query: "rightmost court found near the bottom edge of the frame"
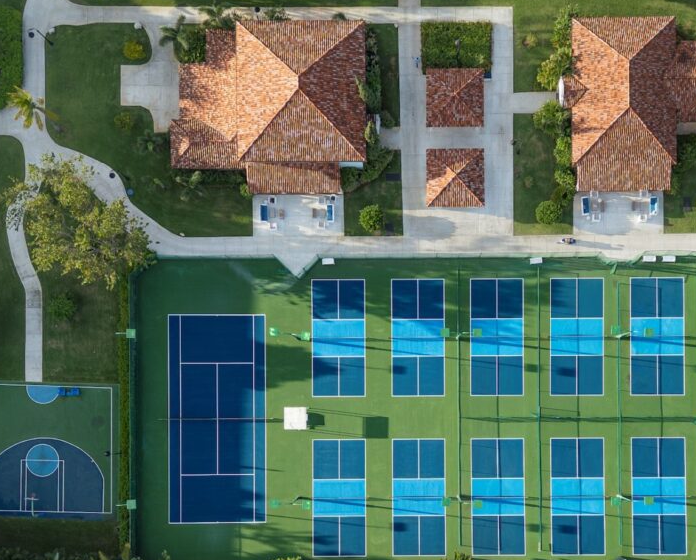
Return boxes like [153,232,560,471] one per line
[629,437,693,556]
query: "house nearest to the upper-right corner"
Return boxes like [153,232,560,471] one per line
[557,15,696,192]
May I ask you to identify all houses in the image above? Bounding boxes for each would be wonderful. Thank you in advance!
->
[557,15,696,192]
[170,19,380,195]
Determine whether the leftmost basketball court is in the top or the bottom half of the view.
bottom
